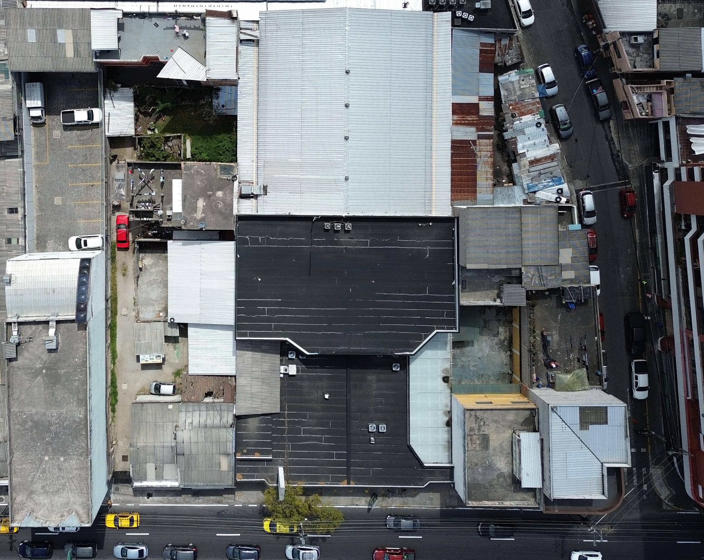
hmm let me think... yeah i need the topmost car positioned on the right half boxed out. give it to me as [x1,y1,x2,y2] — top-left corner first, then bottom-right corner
[511,0,533,27]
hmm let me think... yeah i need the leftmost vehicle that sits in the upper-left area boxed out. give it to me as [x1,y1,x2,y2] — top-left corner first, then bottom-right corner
[27,83,44,124]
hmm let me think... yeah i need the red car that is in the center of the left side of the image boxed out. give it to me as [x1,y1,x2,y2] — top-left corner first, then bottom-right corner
[114,214,130,249]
